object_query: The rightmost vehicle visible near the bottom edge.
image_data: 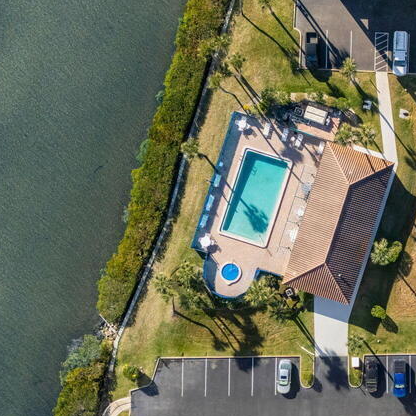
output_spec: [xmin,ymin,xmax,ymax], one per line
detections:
[392,357,408,398]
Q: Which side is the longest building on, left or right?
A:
right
